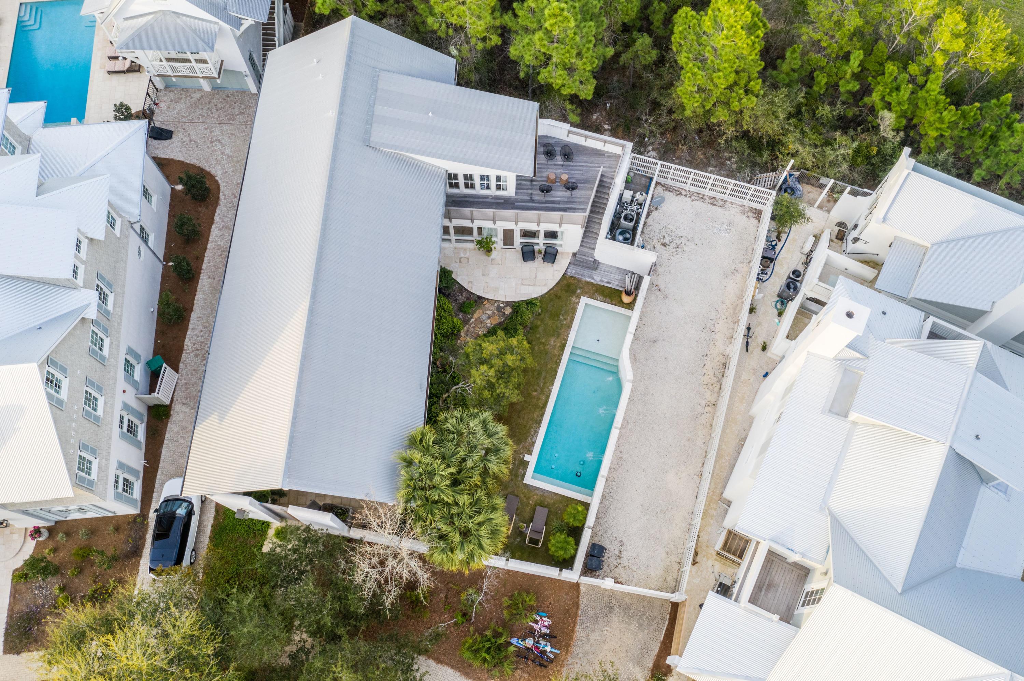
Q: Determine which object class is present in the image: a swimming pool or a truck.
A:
swimming pool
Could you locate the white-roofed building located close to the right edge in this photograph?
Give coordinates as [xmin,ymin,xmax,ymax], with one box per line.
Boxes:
[675,153,1024,681]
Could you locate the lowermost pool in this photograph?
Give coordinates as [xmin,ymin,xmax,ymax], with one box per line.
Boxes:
[522,294,633,505]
